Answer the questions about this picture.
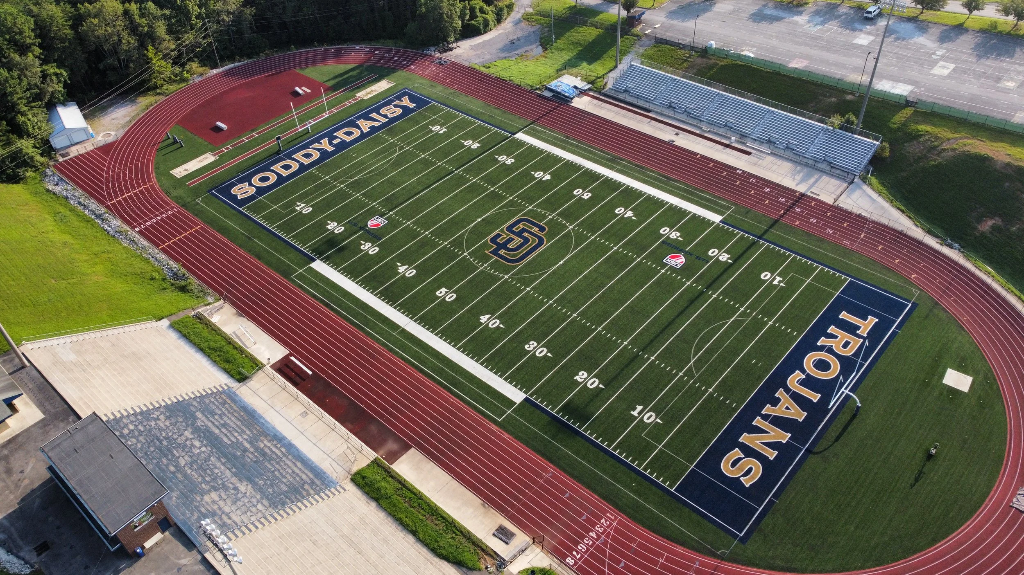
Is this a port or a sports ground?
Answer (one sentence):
What you see here is a sports ground.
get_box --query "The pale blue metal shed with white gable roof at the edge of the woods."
[40,102,92,150]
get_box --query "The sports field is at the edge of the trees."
[153,63,1009,574]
